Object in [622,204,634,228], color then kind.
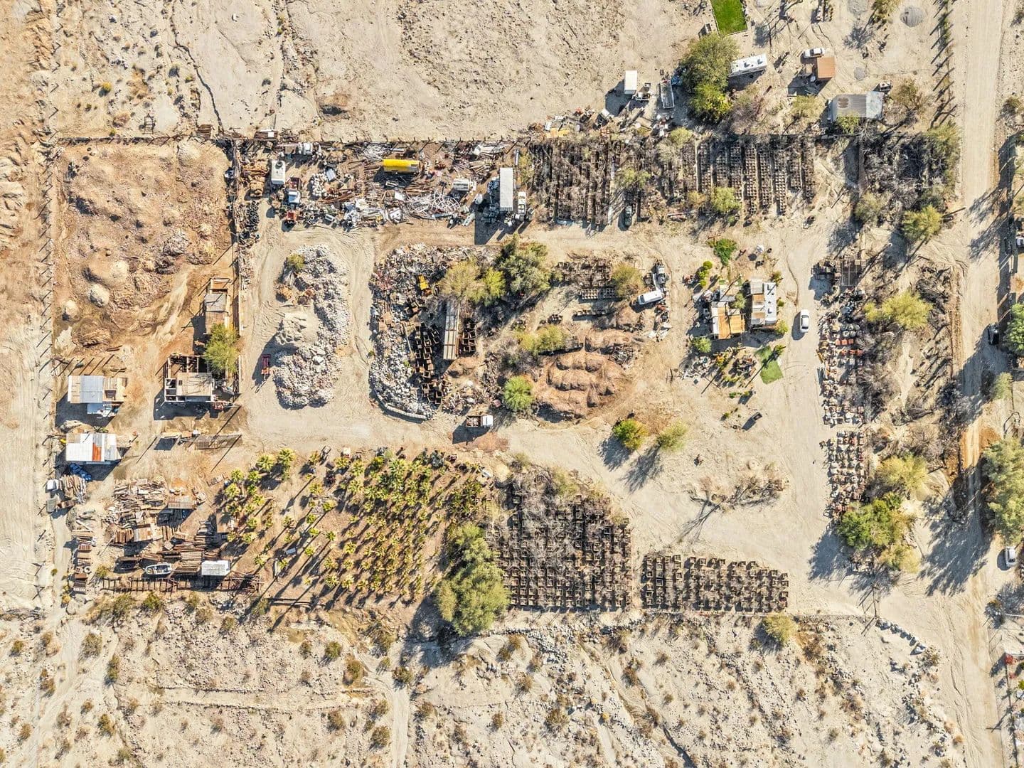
gray vehicle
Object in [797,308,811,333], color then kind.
white car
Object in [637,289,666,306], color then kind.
white vehicle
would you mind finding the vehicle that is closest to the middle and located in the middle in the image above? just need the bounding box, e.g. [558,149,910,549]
[466,415,494,427]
